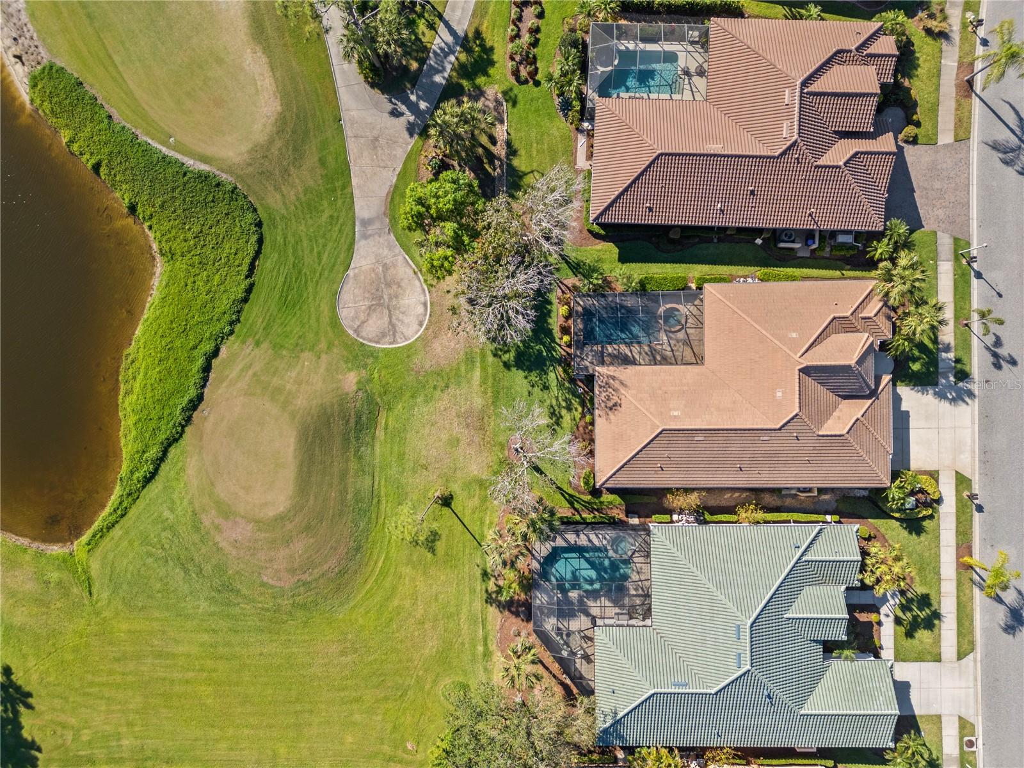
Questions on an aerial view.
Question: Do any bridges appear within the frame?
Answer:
No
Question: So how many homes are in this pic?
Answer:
3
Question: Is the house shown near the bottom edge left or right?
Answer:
right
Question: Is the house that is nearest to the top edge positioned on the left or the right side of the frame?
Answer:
right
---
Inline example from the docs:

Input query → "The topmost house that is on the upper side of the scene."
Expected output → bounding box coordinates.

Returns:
[589,15,899,232]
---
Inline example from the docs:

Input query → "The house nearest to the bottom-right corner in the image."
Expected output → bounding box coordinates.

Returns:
[592,523,903,748]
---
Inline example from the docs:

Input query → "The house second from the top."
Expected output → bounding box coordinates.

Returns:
[593,280,895,490]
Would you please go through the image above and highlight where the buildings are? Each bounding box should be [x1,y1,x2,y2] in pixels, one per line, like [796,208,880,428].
[593,280,895,490]
[589,15,899,232]
[592,523,903,748]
